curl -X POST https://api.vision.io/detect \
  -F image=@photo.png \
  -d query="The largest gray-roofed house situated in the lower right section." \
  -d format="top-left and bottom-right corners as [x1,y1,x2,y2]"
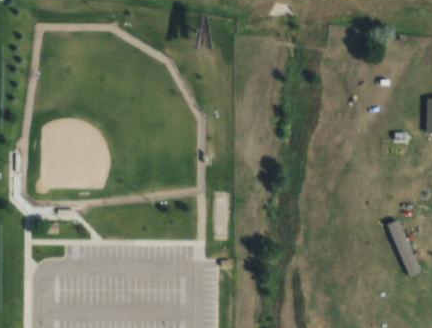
[386,222,420,276]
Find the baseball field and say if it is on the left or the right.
left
